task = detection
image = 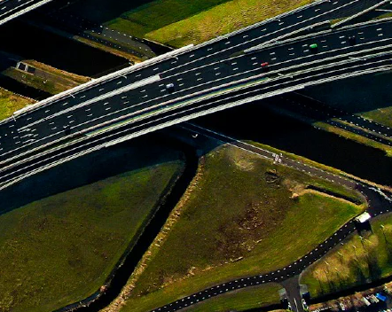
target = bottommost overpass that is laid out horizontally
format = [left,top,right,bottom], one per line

[8,42,313,174]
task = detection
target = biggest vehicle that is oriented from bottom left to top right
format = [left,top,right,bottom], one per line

[354,212,370,226]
